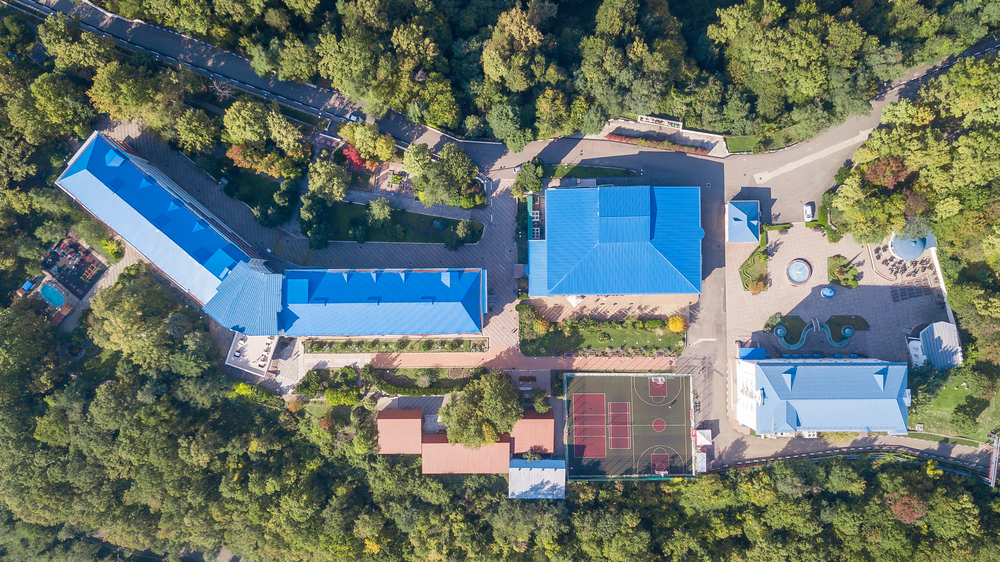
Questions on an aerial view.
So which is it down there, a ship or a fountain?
fountain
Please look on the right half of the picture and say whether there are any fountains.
Yes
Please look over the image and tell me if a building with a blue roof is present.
Yes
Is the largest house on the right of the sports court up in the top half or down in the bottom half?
bottom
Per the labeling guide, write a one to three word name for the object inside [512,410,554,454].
house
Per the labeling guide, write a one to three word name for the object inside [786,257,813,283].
fountain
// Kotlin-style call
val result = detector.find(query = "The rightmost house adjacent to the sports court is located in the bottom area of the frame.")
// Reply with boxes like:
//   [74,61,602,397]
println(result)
[732,341,912,442]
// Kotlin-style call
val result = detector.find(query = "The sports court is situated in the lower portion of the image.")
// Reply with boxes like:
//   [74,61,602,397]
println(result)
[565,375,692,475]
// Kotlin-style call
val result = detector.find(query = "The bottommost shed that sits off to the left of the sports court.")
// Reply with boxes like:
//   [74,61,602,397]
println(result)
[509,457,565,499]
